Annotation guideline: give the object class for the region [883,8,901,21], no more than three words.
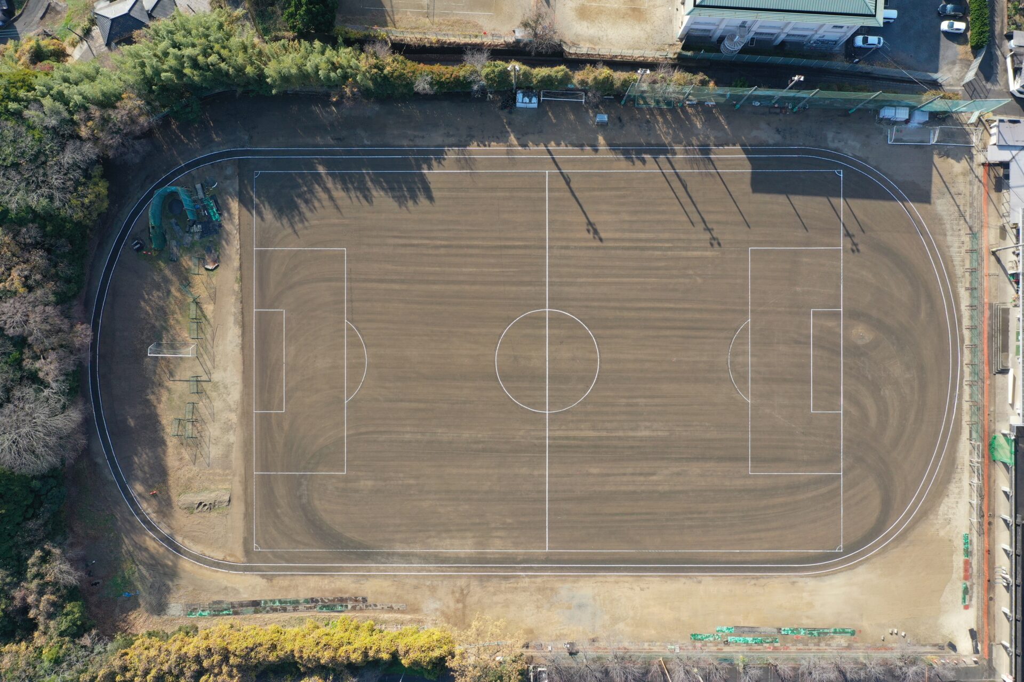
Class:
vehicle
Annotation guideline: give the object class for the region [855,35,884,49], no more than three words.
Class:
car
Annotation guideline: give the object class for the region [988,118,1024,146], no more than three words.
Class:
building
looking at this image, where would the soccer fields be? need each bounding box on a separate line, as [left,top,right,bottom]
[240,158,950,564]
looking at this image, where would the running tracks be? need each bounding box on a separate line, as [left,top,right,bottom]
[89,147,960,575]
